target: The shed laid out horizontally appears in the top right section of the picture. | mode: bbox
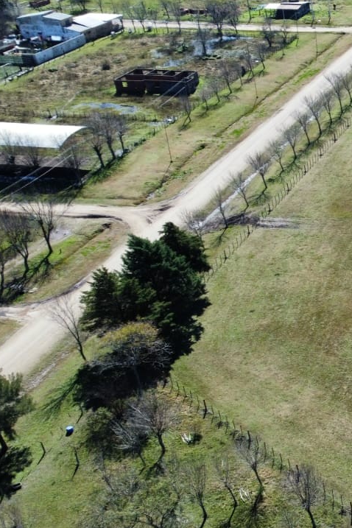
[262,0,313,18]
